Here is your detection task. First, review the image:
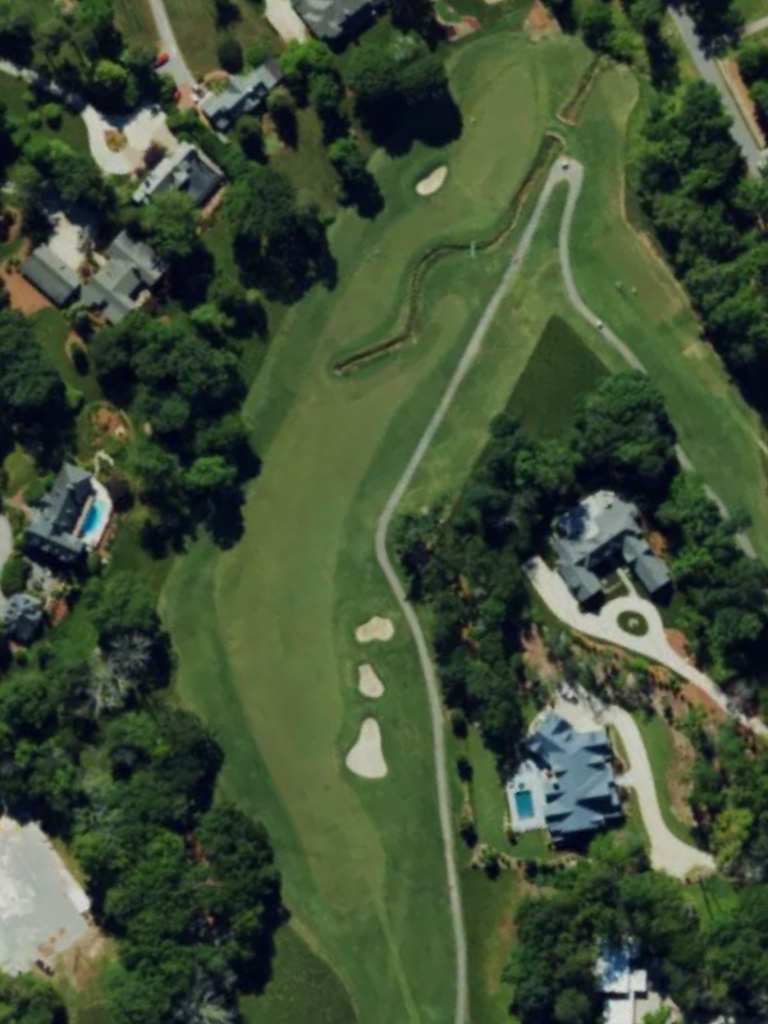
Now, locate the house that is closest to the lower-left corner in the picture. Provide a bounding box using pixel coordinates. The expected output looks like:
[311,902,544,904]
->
[0,592,47,638]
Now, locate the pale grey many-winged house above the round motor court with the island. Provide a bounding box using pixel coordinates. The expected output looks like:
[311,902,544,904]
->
[545,493,676,599]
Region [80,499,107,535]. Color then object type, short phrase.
blue swimming pool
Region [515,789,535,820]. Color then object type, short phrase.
blue swimming pool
